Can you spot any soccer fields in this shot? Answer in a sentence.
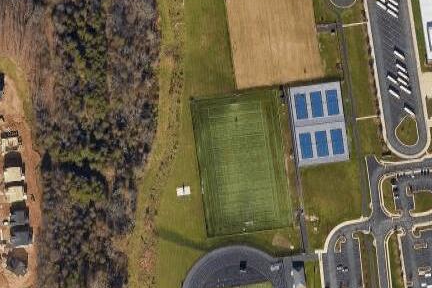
Yes, there's a soccer field here.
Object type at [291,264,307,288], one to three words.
building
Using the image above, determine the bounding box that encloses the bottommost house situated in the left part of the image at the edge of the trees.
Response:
[6,249,29,273]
